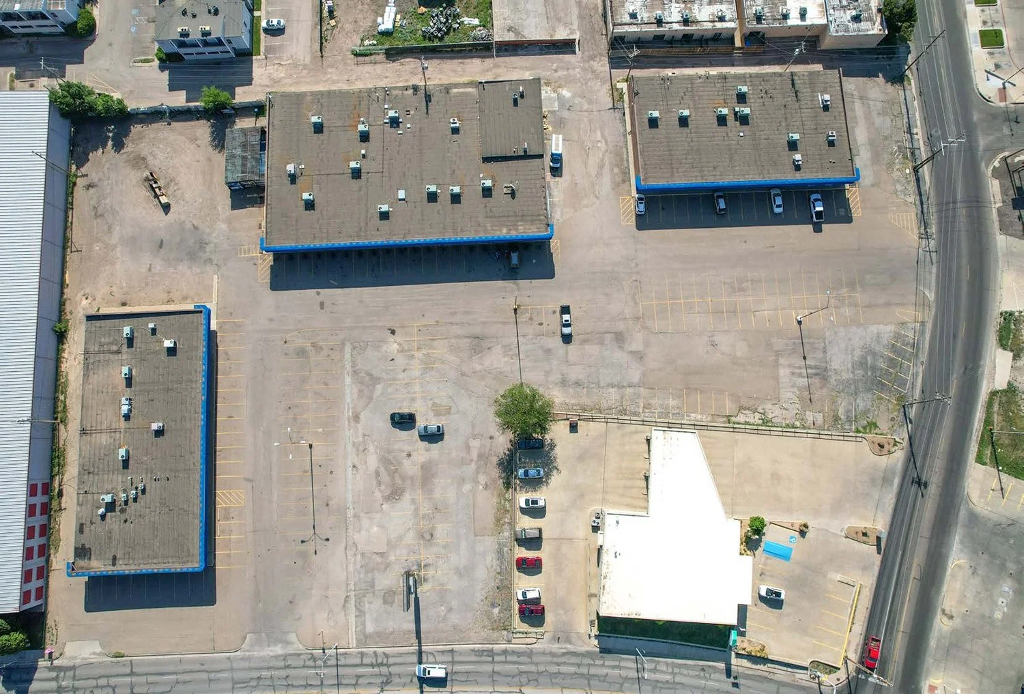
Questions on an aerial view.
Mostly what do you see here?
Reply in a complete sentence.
What you mostly see from above here is paved ground.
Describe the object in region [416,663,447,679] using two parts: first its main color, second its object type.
white vehicle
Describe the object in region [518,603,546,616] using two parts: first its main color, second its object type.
red vehicle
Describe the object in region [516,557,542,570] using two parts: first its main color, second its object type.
red vehicle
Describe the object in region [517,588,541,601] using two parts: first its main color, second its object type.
white vehicle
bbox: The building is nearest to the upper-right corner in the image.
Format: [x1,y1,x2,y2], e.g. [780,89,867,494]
[817,0,887,51]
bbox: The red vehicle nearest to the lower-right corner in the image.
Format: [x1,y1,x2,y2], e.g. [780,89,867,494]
[863,635,880,671]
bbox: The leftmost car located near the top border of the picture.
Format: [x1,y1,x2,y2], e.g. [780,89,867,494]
[262,19,286,31]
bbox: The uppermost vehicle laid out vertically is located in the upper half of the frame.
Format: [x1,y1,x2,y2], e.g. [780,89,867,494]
[550,134,563,168]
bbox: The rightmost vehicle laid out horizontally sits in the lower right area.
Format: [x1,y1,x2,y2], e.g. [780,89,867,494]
[757,586,786,600]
